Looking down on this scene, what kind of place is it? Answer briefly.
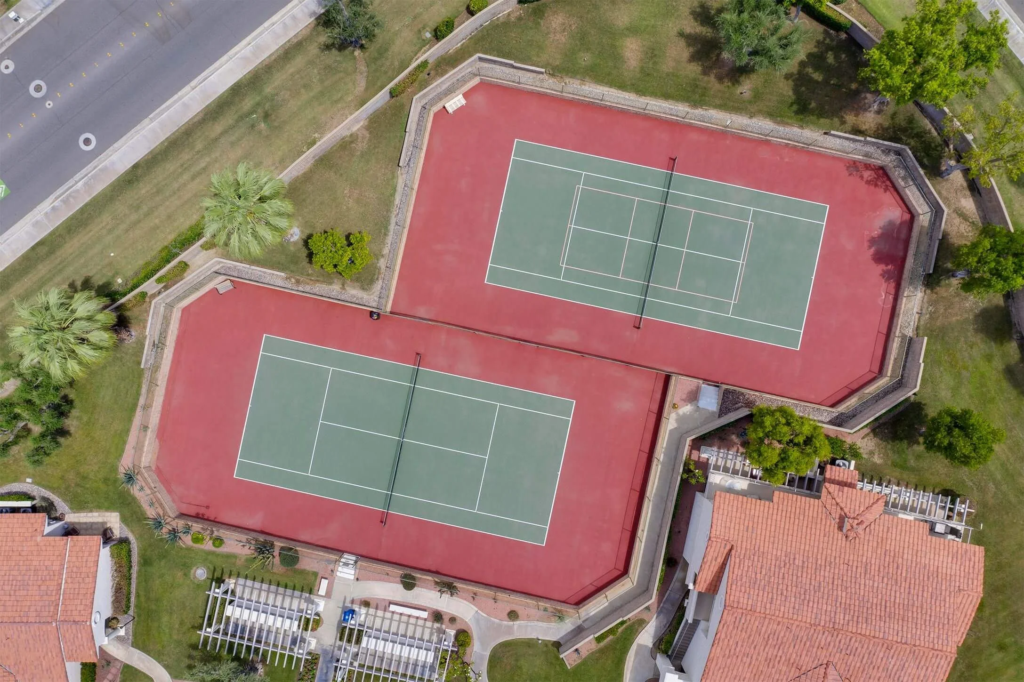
sports ground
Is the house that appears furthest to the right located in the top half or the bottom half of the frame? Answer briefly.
bottom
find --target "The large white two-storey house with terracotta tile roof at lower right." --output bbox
[648,460,985,682]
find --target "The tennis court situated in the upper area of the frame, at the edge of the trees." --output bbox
[390,82,914,407]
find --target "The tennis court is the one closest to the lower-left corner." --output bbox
[156,280,670,605]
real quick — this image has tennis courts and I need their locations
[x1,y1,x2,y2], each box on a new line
[156,280,670,605]
[390,82,914,407]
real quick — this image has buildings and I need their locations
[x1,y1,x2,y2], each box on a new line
[0,508,118,682]
[648,460,985,682]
